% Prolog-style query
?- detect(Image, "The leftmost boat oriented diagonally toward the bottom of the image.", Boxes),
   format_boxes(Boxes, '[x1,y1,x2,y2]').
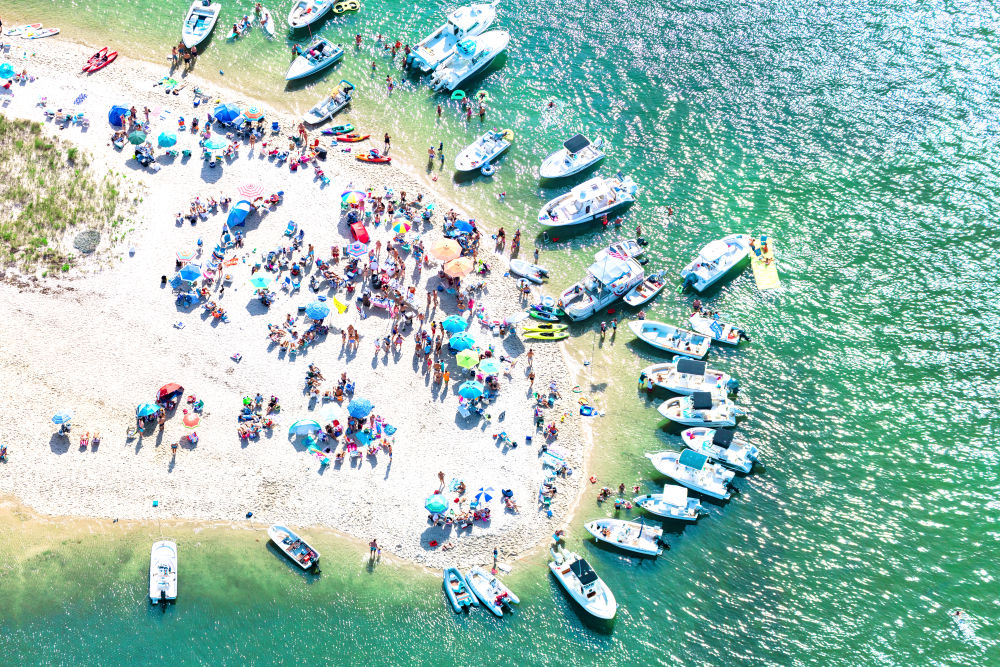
[267,522,324,577]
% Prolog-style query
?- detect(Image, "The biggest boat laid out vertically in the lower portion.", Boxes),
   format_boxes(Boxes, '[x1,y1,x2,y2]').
[148,540,179,615]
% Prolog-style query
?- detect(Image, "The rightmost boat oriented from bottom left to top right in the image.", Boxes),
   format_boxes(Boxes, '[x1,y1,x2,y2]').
[680,238,750,300]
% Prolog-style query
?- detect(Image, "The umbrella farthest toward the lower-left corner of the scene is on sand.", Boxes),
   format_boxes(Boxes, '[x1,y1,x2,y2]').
[53,412,73,427]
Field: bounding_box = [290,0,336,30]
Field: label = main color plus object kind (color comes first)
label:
white boat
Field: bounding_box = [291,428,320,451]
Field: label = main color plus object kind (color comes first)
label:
blue tent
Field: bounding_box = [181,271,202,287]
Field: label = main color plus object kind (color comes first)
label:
blue umbrella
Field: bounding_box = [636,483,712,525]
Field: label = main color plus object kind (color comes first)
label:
white boat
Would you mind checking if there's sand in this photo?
Yes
